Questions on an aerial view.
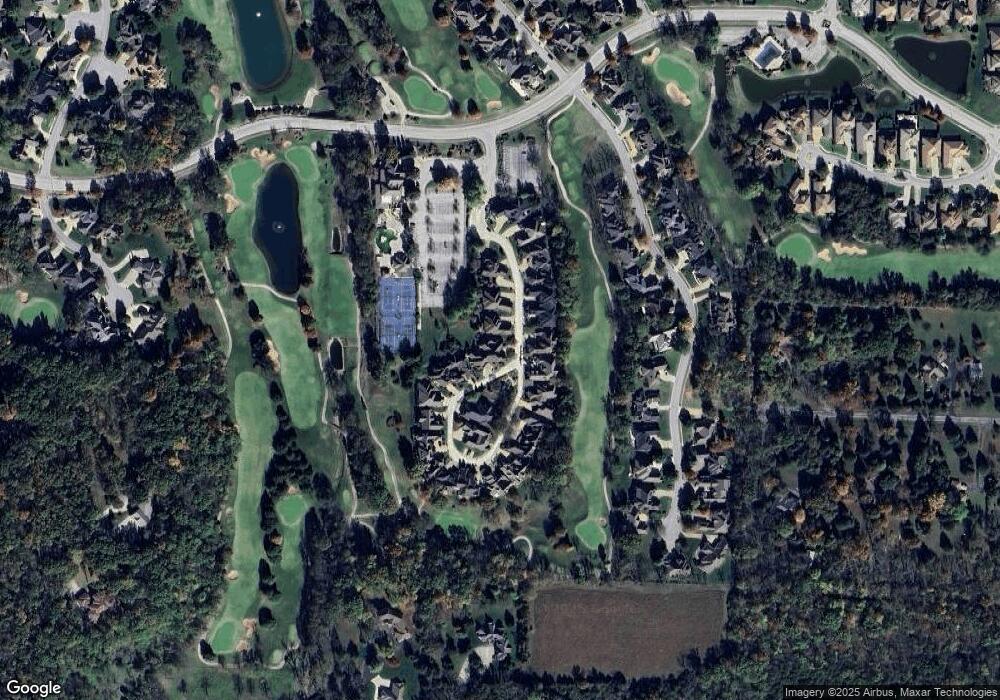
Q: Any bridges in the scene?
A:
No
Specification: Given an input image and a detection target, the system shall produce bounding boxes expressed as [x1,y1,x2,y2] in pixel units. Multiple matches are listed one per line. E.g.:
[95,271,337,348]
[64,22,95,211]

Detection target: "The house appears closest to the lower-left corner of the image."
[76,590,115,618]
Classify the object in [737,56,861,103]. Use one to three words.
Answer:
pond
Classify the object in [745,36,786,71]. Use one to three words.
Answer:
swimming pool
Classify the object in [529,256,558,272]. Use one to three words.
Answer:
house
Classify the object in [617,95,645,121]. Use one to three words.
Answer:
house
